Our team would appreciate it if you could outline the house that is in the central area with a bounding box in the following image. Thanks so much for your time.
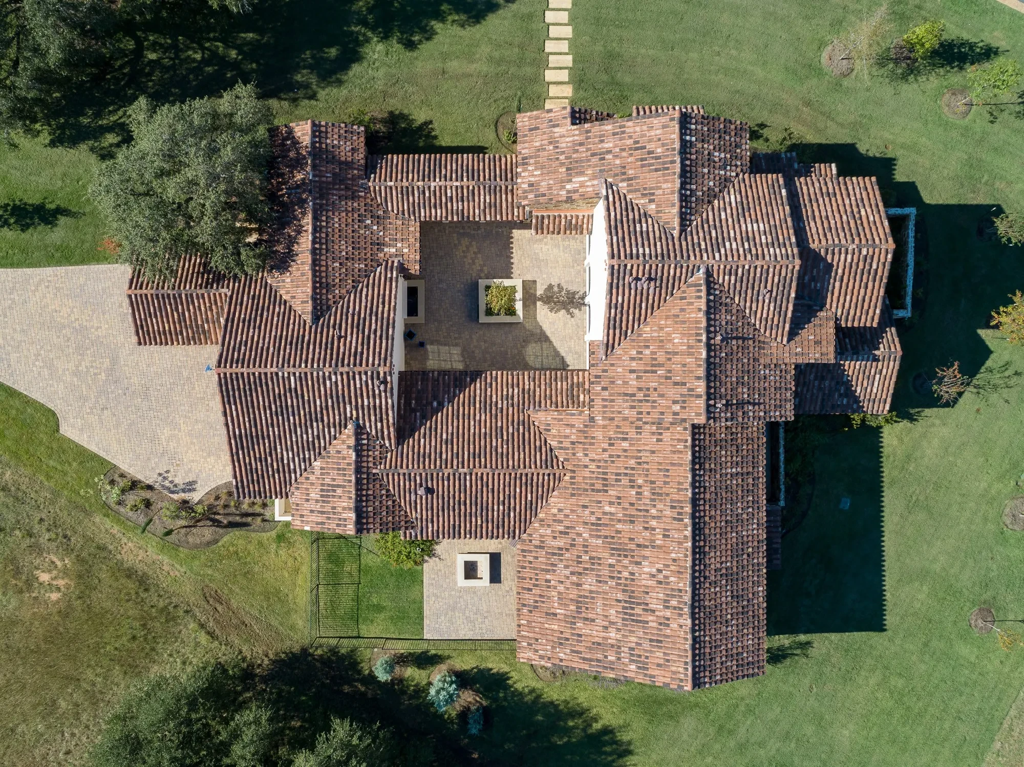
[124,104,905,693]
